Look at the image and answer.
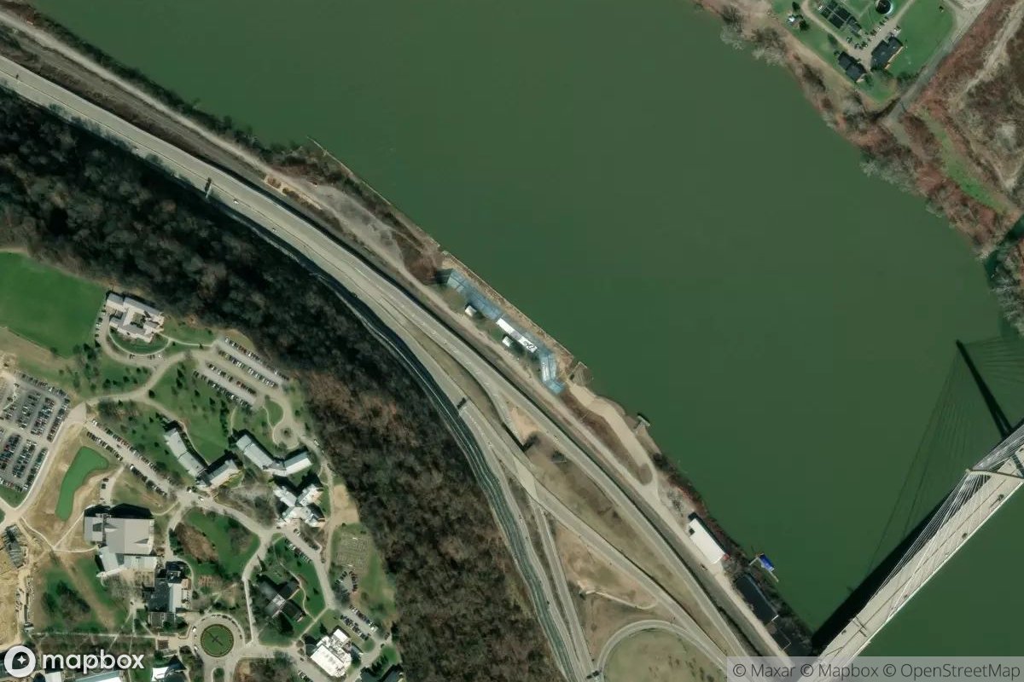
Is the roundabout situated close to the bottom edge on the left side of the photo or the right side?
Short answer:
left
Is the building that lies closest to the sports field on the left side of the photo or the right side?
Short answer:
left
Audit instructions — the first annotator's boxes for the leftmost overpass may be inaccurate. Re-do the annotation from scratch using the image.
[512,448,560,515]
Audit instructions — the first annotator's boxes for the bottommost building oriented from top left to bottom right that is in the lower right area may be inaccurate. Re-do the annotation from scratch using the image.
[768,623,794,650]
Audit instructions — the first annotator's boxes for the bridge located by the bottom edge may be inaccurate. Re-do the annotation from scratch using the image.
[787,424,1024,682]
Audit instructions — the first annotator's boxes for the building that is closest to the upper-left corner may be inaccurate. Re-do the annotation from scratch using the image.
[106,292,169,343]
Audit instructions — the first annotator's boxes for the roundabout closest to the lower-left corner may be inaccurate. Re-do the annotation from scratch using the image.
[188,612,246,682]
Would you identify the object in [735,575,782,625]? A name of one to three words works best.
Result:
building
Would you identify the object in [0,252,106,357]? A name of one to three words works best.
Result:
sports field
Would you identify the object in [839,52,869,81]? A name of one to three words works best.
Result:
building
